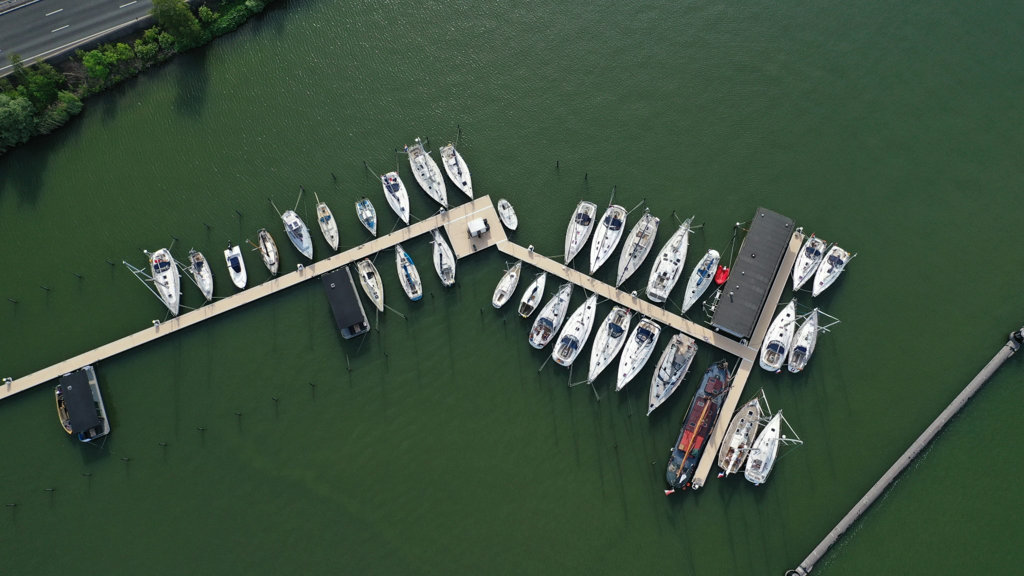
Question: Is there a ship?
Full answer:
Yes, looking at the shot, I can spot a ship.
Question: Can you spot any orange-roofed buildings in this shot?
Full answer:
No, there is no orange-roofed building in the image.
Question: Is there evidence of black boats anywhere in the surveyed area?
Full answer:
Yes, I can see a black boat in this picture.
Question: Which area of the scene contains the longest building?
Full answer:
The longest building is located in the right region of the scene.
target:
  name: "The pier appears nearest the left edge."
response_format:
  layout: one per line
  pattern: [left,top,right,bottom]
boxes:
[692,358,752,486]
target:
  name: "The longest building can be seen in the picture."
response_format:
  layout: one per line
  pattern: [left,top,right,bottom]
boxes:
[704,206,796,341]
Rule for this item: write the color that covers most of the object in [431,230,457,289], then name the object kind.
white boat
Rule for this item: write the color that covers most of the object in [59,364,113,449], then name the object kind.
black boat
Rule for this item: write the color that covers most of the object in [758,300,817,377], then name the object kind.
white boat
